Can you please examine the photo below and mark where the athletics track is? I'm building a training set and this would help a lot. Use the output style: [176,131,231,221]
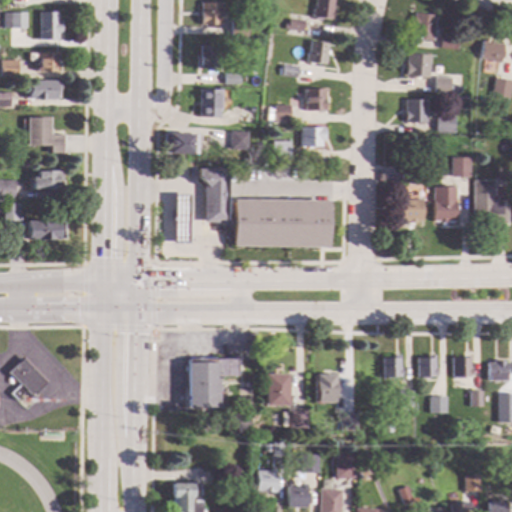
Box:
[0,446,58,512]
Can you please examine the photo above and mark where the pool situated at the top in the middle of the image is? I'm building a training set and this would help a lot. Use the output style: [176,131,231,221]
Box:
[291,46,305,60]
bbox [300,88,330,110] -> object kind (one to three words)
house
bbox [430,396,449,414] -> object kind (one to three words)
building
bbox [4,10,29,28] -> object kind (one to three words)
building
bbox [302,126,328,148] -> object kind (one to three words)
house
